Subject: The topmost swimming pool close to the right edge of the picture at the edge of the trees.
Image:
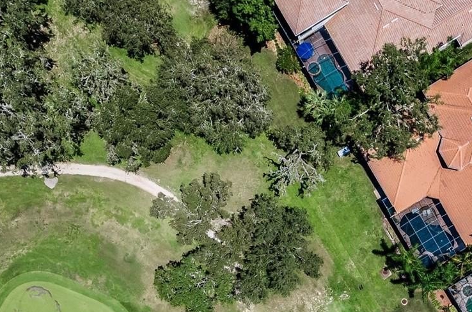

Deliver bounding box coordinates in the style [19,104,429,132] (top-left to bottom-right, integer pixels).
[399,211,455,271]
